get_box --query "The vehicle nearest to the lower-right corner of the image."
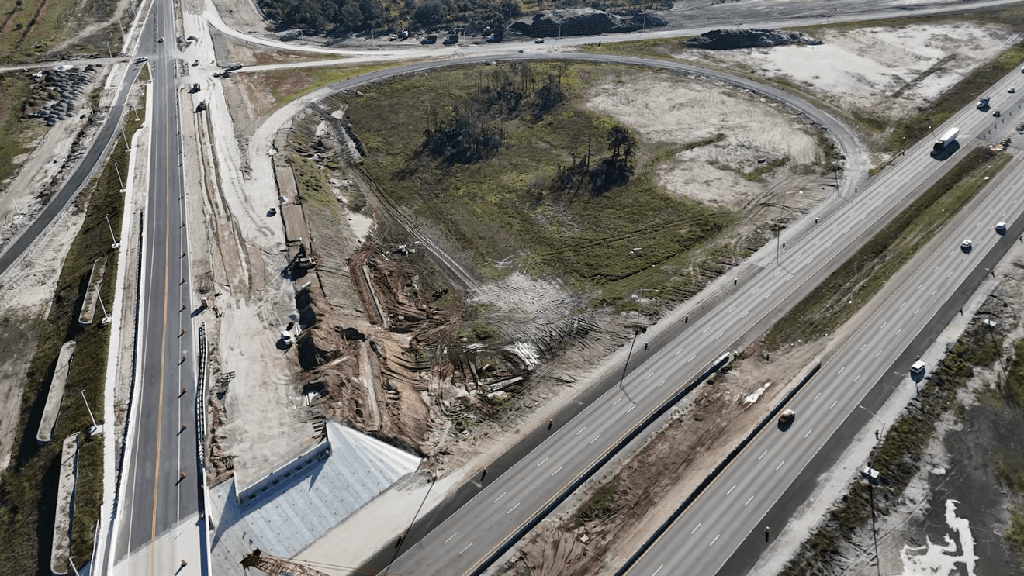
[910,359,928,376]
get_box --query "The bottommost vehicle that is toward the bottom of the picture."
[775,407,796,426]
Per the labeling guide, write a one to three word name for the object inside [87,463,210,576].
bridge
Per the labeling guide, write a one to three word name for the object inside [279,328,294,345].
vehicle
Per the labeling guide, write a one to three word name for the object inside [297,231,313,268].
work vehicle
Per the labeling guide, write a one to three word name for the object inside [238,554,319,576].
crane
